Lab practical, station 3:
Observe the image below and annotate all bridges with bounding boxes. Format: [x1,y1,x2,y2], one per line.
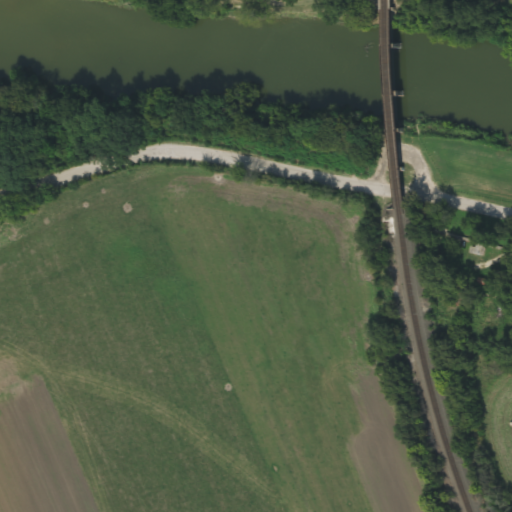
[376,0,408,212]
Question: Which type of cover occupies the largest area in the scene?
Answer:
grass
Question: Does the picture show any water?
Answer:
Yes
